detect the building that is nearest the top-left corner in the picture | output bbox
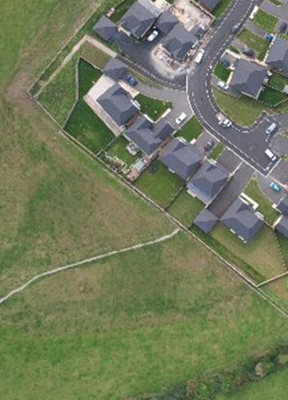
[95,16,118,40]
